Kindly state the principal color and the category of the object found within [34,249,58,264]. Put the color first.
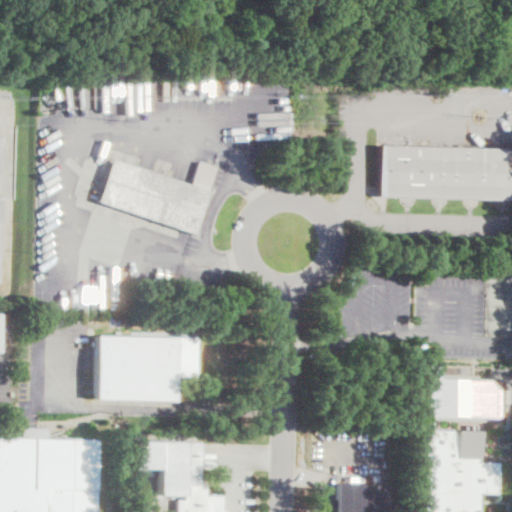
white vehicle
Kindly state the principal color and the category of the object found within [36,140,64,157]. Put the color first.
white vehicle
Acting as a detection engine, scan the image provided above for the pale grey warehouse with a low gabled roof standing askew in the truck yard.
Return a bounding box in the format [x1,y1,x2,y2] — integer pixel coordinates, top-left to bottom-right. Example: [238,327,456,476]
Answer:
[98,160,218,236]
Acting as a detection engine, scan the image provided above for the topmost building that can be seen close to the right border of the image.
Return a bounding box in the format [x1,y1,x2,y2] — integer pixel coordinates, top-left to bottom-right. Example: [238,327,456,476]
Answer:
[380,146,512,201]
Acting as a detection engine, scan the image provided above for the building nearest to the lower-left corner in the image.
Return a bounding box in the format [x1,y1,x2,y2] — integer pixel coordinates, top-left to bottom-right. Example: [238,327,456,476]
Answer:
[0,428,102,512]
